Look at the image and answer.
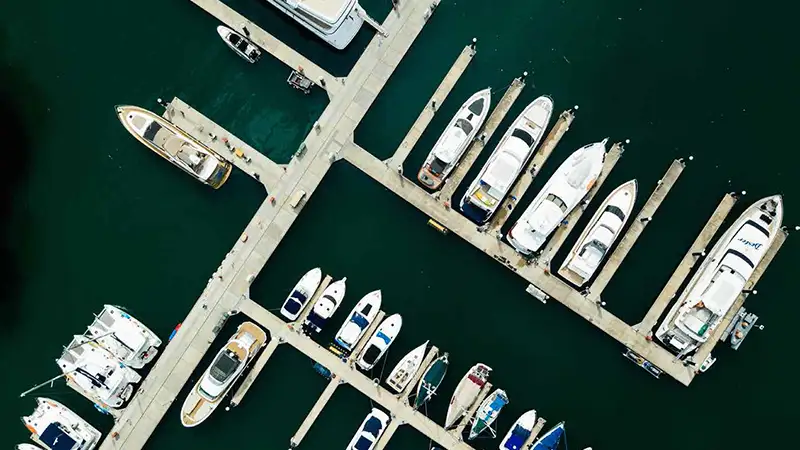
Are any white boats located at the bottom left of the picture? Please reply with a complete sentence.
Yes, you'll find a white boat at the bottom left of the picture.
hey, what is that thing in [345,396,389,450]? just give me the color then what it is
white boat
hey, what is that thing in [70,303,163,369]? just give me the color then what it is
white boat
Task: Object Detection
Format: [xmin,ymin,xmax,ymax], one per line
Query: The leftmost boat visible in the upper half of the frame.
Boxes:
[115,105,234,189]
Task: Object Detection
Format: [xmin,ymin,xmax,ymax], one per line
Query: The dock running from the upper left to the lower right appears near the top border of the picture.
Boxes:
[189,0,348,102]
